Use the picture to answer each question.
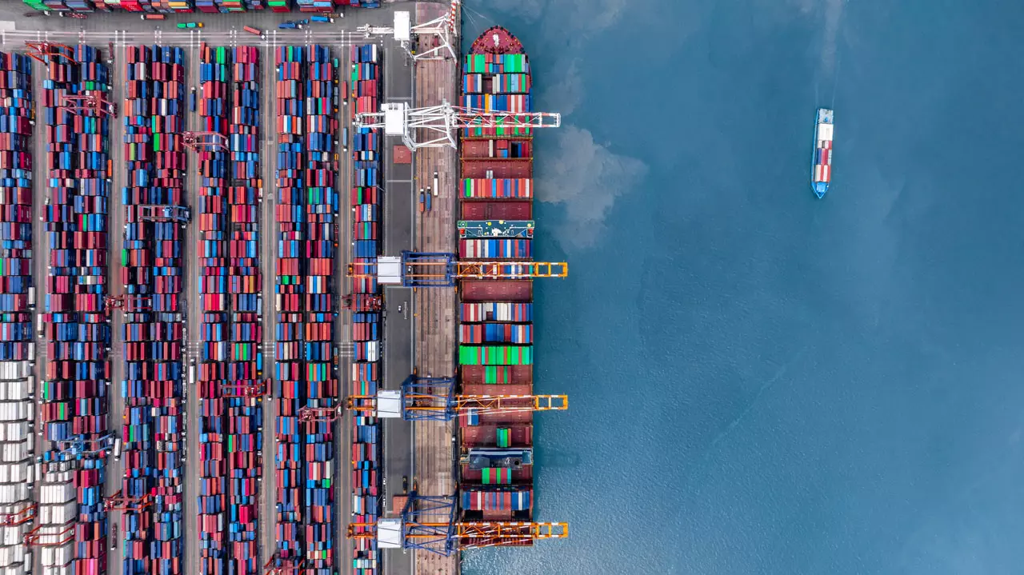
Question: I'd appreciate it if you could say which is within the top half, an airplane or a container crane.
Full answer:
The one visible within the top half is a container crane.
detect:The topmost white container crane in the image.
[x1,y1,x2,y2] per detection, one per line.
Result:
[357,0,463,76]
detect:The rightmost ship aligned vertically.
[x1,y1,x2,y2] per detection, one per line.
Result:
[810,108,834,199]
